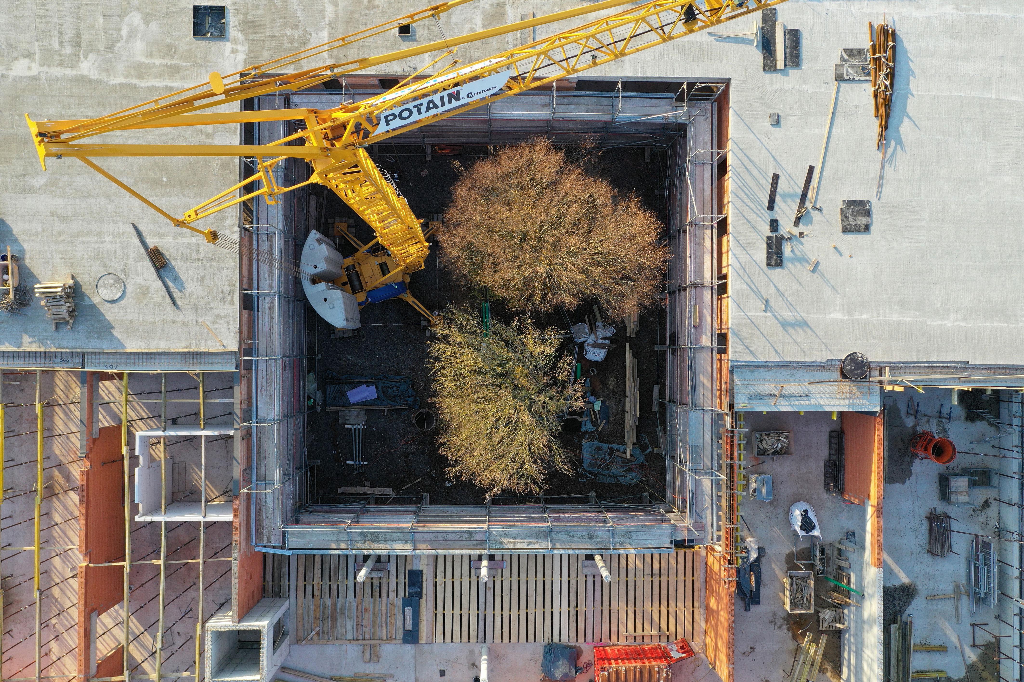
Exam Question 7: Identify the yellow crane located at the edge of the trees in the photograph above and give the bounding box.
[24,0,781,336]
